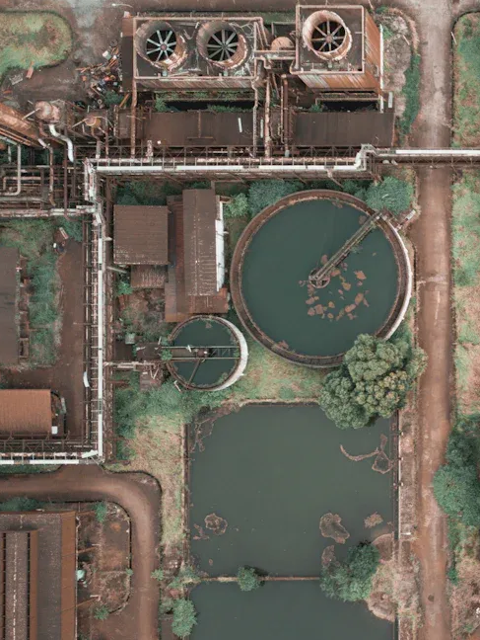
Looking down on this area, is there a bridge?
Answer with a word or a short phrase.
Yes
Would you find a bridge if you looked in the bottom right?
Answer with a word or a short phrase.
No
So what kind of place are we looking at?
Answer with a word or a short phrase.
industrial area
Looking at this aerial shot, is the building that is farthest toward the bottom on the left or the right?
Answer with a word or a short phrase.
left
